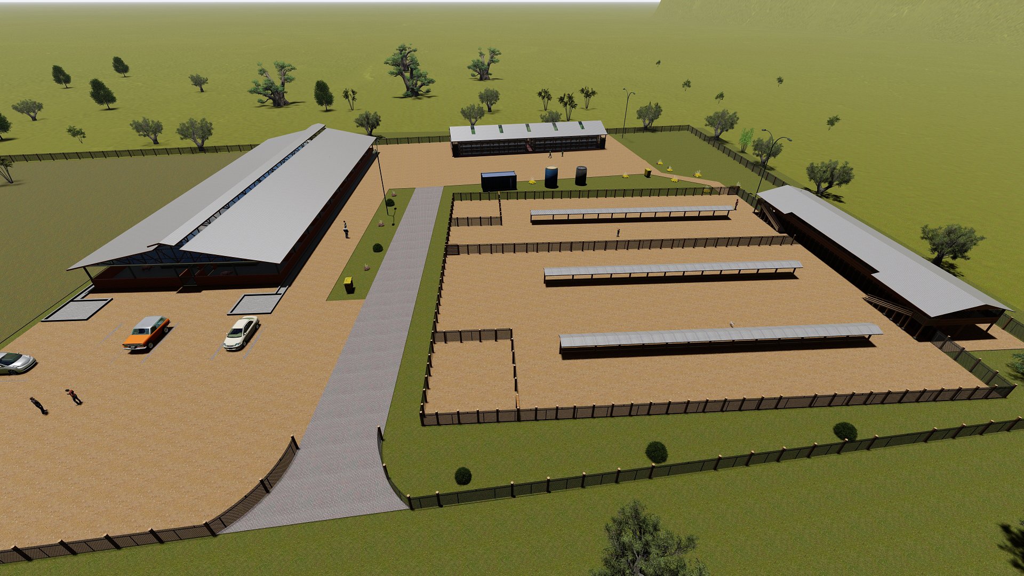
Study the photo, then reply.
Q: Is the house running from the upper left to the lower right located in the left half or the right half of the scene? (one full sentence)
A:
The house running from the upper left to the lower right sits on the right side.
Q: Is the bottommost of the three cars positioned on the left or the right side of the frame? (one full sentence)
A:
The bottommost of the three cars is on the left side of the image.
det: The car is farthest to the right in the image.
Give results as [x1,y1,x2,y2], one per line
[222,315,259,348]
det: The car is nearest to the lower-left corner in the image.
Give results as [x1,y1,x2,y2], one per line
[0,350,36,372]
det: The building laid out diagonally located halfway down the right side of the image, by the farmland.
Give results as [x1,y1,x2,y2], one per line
[753,185,1020,338]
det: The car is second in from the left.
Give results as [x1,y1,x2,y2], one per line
[120,315,170,351]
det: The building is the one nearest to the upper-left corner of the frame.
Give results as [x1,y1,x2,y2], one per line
[67,122,376,287]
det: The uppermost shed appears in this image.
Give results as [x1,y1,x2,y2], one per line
[448,120,607,156]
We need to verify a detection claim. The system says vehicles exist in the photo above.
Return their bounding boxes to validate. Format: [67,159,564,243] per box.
[120,315,170,351]
[0,350,36,372]
[222,315,259,348]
